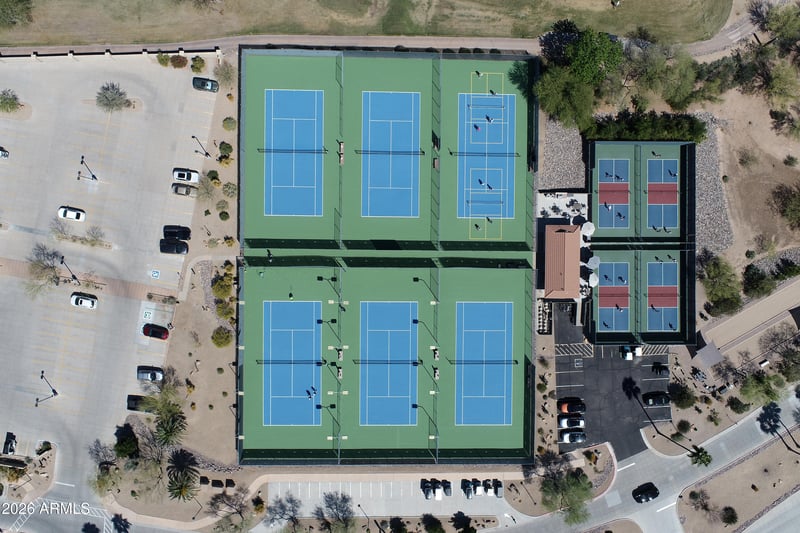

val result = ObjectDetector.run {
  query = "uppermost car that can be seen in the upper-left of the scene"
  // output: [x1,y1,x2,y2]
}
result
[191,77,219,92]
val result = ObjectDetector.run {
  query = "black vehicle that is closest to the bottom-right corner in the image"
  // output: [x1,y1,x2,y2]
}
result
[633,483,658,501]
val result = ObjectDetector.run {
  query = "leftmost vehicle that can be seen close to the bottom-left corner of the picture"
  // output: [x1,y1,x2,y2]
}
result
[4,431,20,456]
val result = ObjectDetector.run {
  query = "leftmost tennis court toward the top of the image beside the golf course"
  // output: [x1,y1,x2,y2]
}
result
[245,55,343,249]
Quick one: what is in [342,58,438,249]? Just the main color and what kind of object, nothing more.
green tennis court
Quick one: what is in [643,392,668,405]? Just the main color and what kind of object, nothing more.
black vehicle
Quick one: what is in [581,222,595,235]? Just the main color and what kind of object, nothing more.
white umbrella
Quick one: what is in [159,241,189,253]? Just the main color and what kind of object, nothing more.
black vehicle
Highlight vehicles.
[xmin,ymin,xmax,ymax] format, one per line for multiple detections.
[495,483,503,499]
[651,366,666,374]
[485,483,494,499]
[4,431,20,456]
[633,483,658,501]
[474,481,483,497]
[630,345,641,358]
[444,482,452,498]
[561,431,586,444]
[424,484,431,499]
[191,77,219,92]
[135,368,165,381]
[70,293,98,306]
[643,392,668,405]
[142,324,170,338]
[559,401,584,413]
[162,227,190,239]
[559,417,584,429]
[127,397,145,410]
[622,349,632,363]
[171,183,198,195]
[159,241,189,253]
[434,485,442,501]
[465,484,472,499]
[59,207,86,220]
